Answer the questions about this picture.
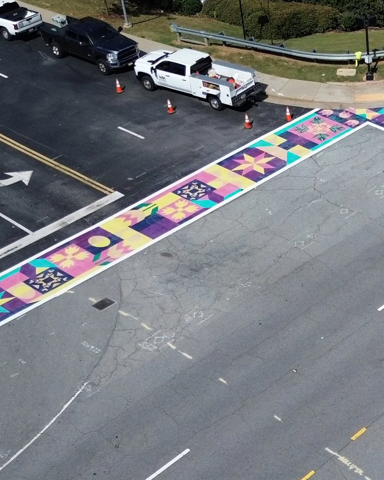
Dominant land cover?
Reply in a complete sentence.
The largest share of the image is taken up by paved ground.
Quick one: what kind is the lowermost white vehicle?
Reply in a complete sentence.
What you see as the lowermost white vehicle is a truck.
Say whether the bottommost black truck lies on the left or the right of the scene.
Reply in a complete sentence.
It is on the left.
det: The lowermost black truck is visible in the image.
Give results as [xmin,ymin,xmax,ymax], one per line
[40,21,141,72]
